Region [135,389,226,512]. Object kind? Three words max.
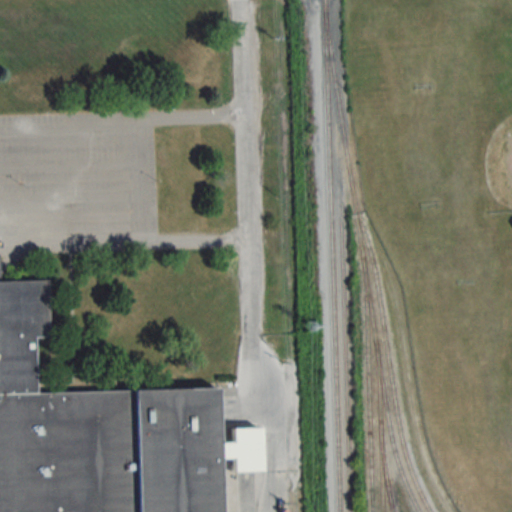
building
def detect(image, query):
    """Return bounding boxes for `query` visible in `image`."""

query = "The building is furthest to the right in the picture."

[225,427,266,473]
